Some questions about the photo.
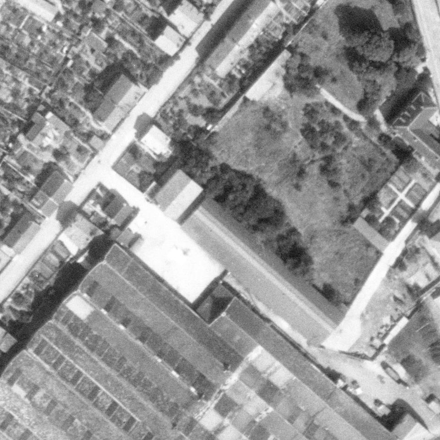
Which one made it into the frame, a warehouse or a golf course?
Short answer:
warehouse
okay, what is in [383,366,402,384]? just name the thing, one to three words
vehicle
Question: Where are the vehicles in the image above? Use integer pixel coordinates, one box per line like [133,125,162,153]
[375,404,389,416]
[351,386,361,395]
[383,366,402,384]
